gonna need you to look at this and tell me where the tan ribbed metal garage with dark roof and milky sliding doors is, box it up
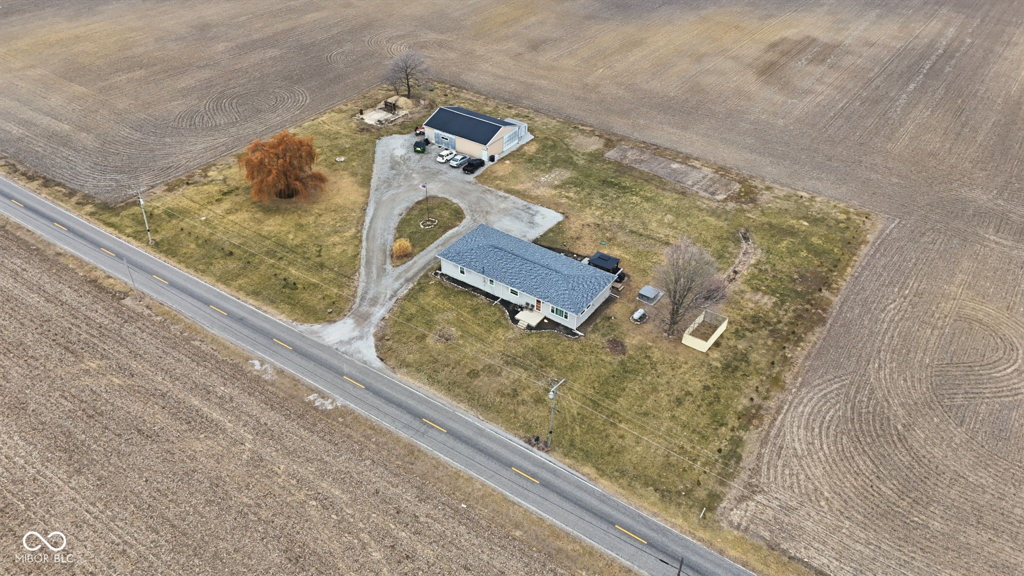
[423,106,520,161]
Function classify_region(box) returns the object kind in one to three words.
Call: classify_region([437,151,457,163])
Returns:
vehicle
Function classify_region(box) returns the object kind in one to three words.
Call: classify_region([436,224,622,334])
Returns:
house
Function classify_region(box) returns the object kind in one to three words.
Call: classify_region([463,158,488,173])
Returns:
vehicle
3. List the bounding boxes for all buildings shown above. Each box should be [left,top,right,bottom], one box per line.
[636,286,663,306]
[423,106,520,161]
[436,224,622,334]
